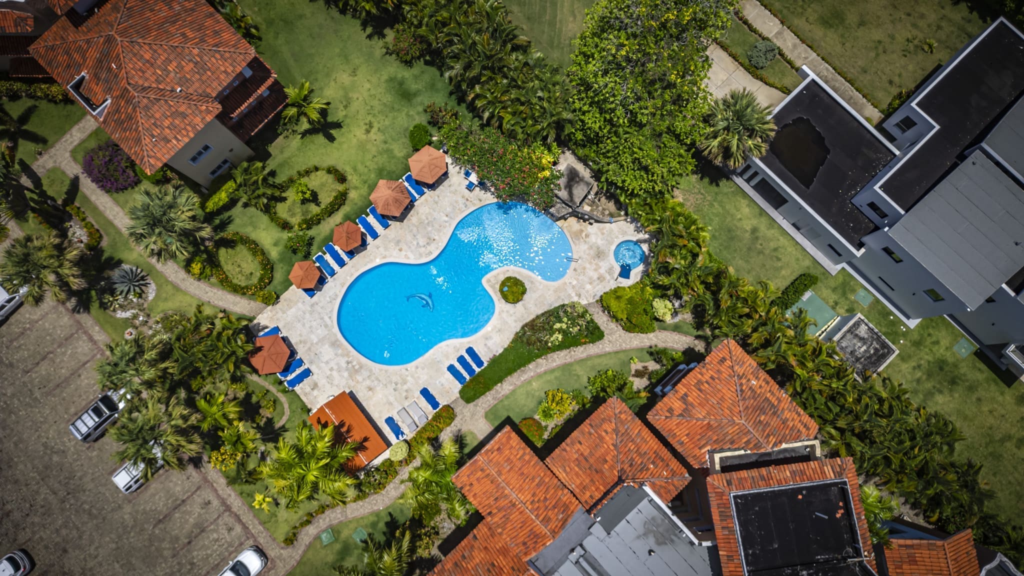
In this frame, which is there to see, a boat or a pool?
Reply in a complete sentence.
Visible in the photo is a pool.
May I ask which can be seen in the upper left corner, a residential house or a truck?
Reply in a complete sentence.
You can see a residential house in the upper left corner.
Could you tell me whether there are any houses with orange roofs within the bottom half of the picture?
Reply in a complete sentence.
Yes, there is a house with an orange roof within the bottom half of the picture.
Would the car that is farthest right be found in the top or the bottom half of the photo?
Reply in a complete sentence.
The bottom half of the photo is where the car that is farthest right is.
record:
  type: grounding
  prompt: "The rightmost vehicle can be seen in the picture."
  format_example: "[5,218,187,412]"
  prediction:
[215,552,260,576]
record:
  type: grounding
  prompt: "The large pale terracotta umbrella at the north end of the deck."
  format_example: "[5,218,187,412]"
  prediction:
[411,146,447,186]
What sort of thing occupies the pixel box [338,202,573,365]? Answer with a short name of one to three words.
swimming pool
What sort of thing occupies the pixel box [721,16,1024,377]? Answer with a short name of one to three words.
house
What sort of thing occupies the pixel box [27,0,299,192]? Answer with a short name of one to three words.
house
